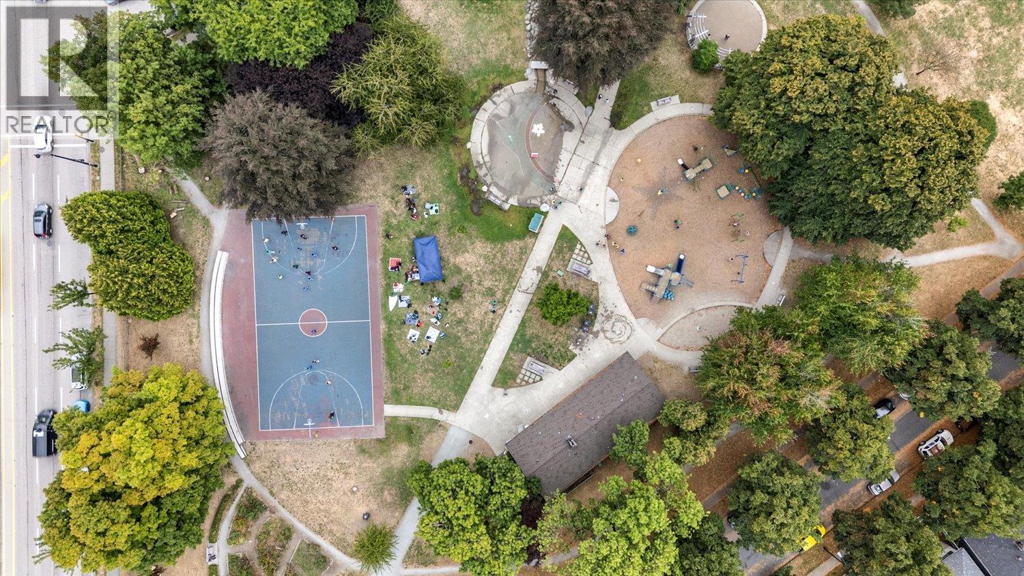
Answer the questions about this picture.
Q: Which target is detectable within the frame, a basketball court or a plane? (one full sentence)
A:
I can see a basketball court in this picture.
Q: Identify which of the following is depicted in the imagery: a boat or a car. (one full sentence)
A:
It is a car that can be seen here.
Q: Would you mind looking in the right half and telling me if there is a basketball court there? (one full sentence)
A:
No, I see no basketball court in the right half.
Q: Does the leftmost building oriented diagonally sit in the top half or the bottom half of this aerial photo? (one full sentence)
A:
The bottom half of the photo is where the leftmost building oriented diagonally is.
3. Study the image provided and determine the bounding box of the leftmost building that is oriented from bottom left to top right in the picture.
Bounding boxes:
[504,352,664,497]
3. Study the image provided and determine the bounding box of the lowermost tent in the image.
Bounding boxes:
[414,236,446,284]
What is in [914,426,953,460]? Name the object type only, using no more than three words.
car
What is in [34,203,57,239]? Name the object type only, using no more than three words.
car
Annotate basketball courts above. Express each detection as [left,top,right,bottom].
[221,205,386,441]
